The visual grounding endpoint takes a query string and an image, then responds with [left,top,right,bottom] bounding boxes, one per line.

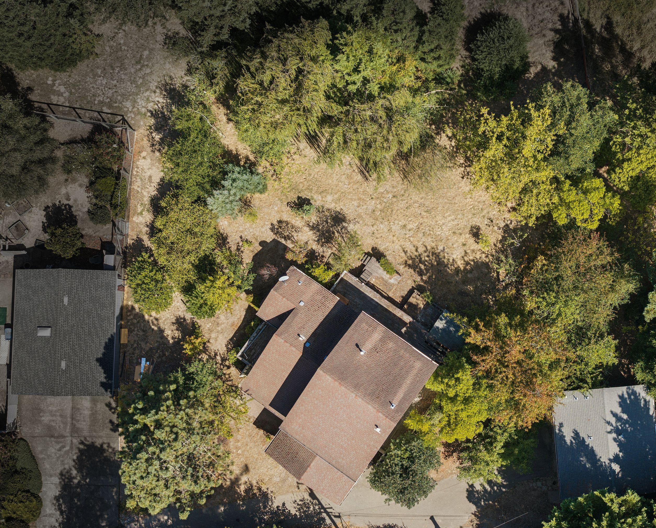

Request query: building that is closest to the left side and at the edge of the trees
[9,268,122,398]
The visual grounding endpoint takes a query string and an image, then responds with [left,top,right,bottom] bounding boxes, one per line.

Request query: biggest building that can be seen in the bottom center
[239,265,438,506]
